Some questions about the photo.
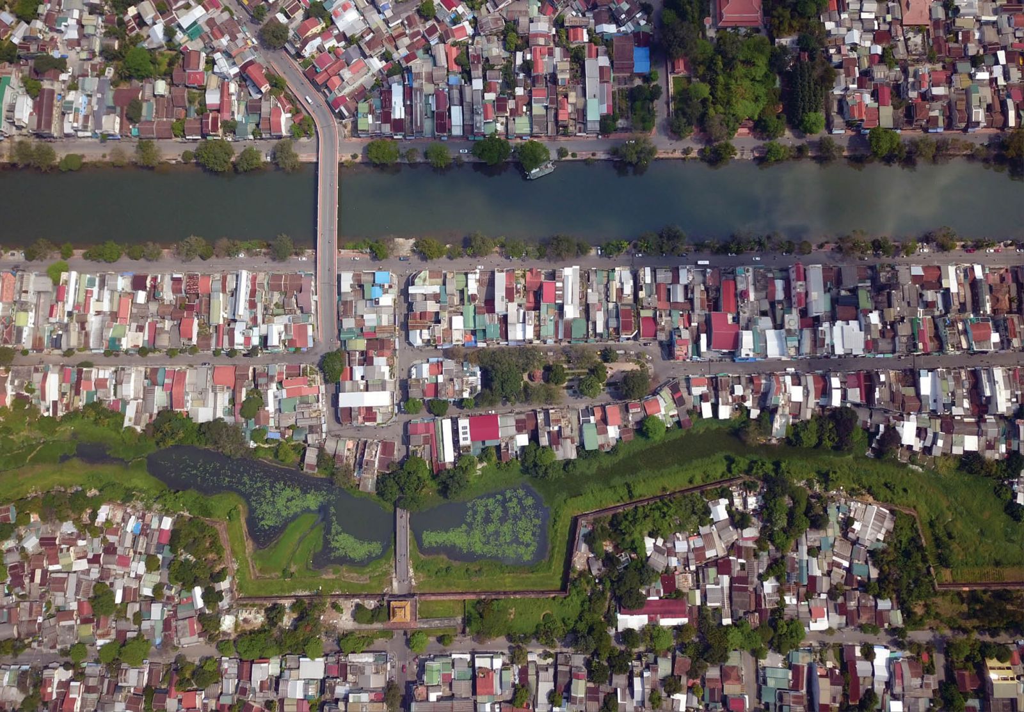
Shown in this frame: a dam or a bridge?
bridge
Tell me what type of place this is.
residential area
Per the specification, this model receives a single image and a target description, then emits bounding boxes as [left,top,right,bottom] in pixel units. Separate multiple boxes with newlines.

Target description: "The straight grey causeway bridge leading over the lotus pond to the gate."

[393,496,411,591]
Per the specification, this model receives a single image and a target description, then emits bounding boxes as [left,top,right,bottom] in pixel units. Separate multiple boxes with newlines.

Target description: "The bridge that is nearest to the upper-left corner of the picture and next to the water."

[264,41,338,345]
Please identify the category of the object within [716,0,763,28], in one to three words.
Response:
building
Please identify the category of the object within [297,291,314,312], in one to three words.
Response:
house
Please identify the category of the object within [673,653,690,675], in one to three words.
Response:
house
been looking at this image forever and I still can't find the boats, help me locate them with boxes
[524,163,555,180]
